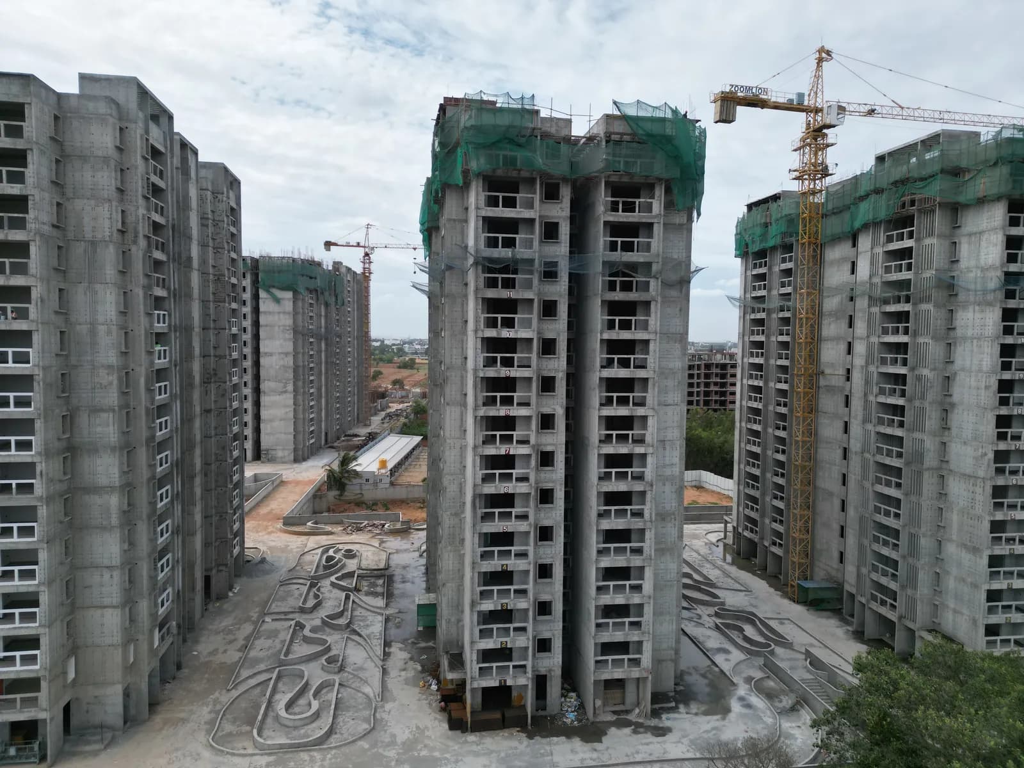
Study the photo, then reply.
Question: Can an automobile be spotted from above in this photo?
No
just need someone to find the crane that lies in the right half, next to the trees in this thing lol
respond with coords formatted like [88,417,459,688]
[704,44,1024,606]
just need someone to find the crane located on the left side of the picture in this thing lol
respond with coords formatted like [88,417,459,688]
[326,223,430,424]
